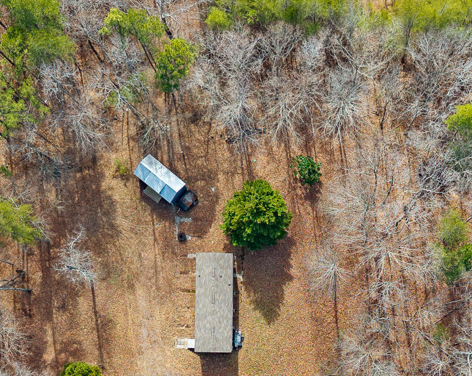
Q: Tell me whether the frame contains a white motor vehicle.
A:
No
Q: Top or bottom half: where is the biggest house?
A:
bottom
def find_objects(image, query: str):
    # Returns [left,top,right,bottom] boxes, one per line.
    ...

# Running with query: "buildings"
[195,253,234,353]
[135,155,186,204]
